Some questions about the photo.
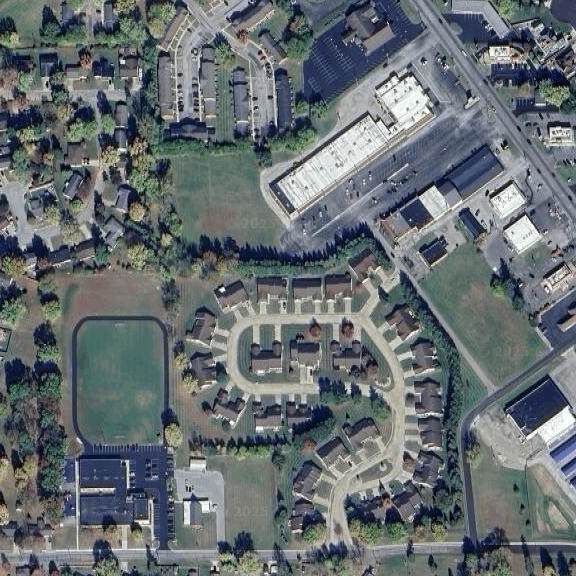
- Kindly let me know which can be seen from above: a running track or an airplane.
running track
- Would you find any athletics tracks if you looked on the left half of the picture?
Yes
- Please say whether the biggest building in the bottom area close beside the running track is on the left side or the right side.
left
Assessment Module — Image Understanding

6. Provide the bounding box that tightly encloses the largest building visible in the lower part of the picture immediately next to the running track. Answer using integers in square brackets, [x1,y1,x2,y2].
[80,458,149,526]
